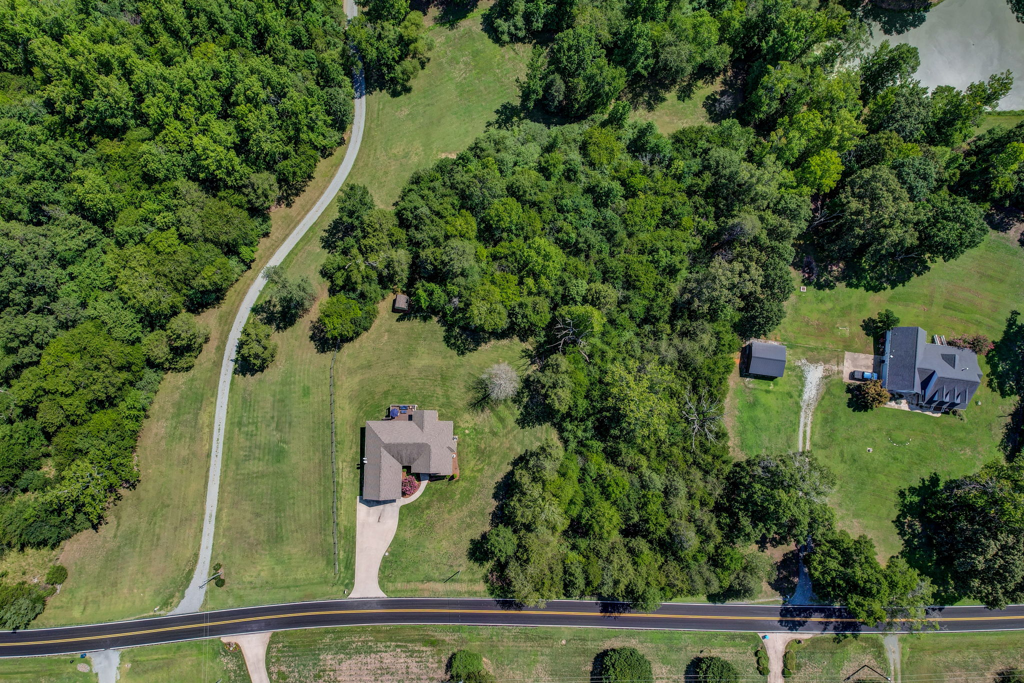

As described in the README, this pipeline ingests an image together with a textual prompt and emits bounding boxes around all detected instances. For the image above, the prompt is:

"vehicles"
[851,370,878,382]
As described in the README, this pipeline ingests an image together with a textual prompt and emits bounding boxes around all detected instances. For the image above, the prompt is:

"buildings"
[881,327,983,410]
[747,342,786,377]
[395,294,411,311]
[364,410,456,500]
